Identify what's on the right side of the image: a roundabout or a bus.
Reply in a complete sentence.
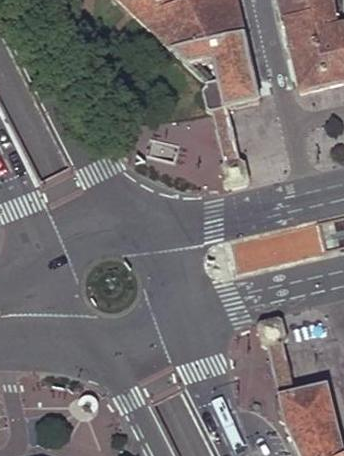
You can see a bus on the right side of the image.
